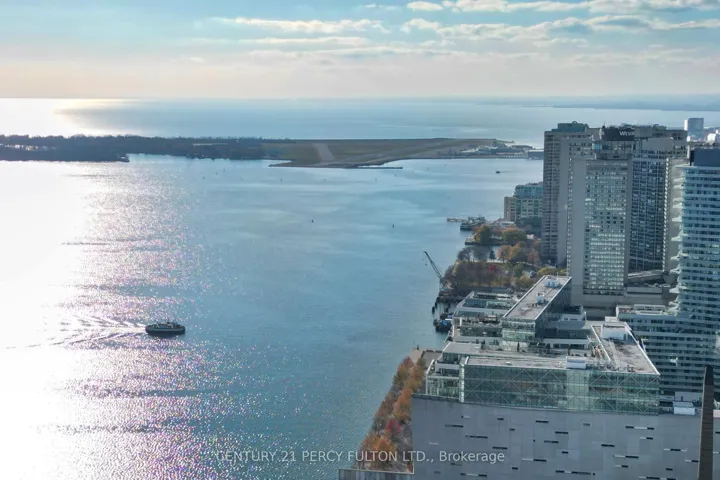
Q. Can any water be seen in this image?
Yes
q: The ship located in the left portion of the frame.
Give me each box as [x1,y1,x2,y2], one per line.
[145,320,186,334]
